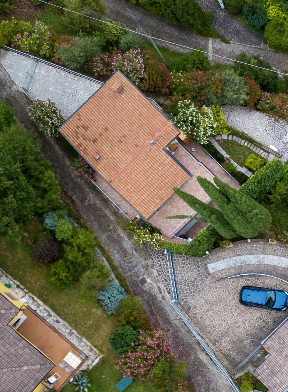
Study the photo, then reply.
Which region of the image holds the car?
bottom right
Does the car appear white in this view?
No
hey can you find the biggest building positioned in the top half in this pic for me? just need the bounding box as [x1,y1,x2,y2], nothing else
[57,69,236,239]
